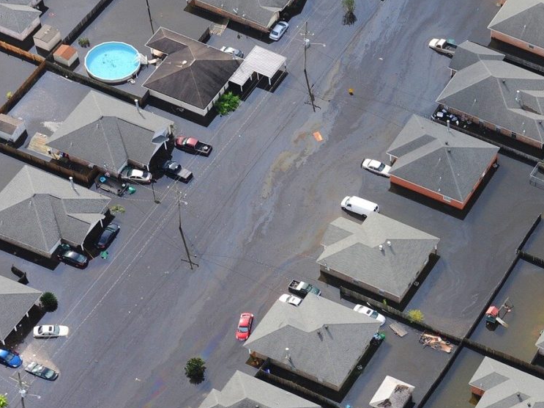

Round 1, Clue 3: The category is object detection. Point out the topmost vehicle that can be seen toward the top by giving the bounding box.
[267,21,292,44]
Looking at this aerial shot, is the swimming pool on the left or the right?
left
